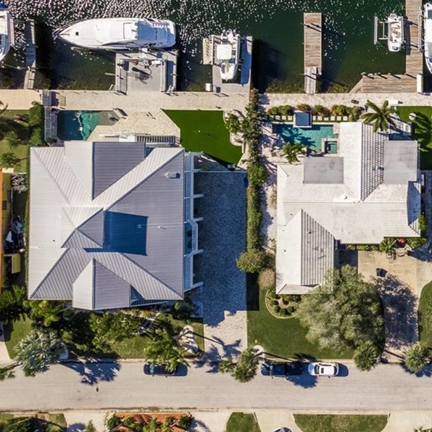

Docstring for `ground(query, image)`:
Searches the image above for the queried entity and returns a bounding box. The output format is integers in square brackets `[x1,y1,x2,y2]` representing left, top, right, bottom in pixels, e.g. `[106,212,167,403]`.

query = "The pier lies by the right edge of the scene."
[351,0,424,92]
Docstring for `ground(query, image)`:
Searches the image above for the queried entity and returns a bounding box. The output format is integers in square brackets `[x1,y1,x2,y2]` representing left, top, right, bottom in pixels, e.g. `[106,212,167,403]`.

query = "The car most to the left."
[144,363,178,379]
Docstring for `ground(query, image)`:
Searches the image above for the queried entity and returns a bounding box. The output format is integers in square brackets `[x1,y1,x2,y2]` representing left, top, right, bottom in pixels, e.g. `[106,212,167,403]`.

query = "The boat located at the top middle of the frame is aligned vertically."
[217,29,238,79]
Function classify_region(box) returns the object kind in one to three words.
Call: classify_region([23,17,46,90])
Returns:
pier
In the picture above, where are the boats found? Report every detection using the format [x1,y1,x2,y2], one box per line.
[51,18,180,50]
[425,0,432,70]
[388,10,403,51]
[0,0,15,68]
[217,29,238,79]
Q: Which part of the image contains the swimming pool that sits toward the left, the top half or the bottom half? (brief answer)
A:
top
